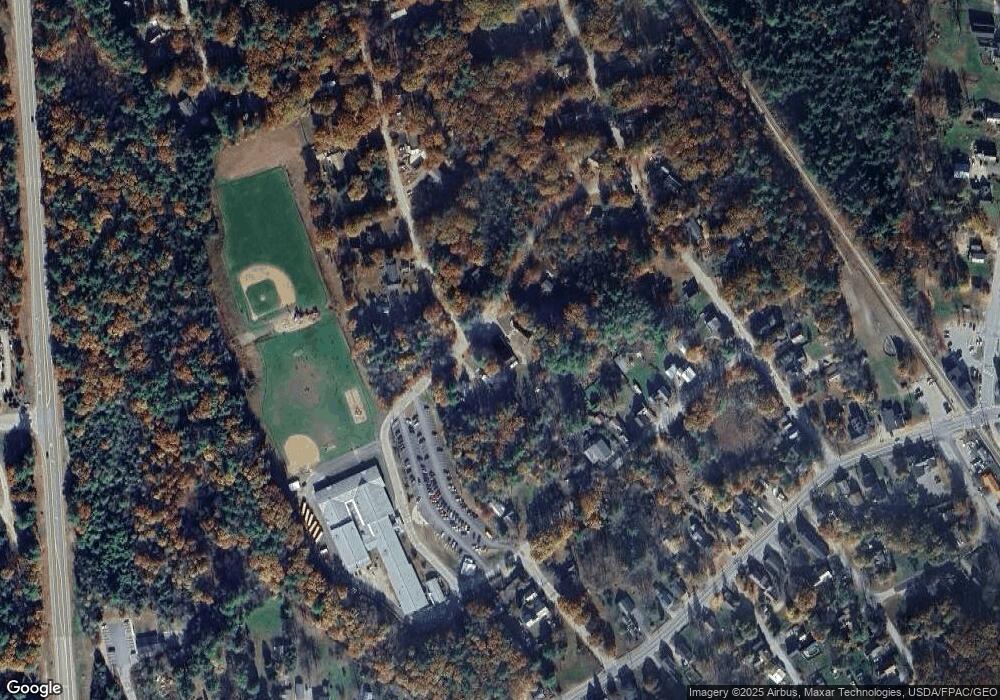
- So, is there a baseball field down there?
Yes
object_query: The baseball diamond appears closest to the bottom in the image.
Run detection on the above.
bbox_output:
[258,316,379,472]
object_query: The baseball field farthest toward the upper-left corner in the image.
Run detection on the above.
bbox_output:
[217,167,329,334]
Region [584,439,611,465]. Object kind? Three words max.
house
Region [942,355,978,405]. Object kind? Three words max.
building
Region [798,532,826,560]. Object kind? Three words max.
house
